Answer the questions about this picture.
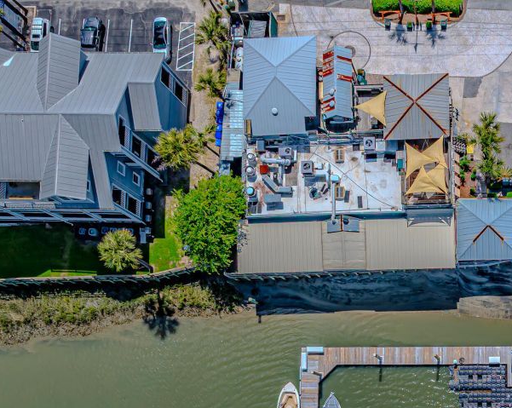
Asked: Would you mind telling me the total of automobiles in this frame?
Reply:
3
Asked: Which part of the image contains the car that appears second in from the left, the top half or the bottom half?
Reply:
top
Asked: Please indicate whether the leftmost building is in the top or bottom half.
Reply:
top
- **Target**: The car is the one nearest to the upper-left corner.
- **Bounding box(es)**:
[24,11,51,52]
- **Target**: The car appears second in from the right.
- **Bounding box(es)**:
[81,14,105,52]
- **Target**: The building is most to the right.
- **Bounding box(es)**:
[456,199,512,263]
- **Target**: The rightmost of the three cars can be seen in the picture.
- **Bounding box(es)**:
[151,16,174,62]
